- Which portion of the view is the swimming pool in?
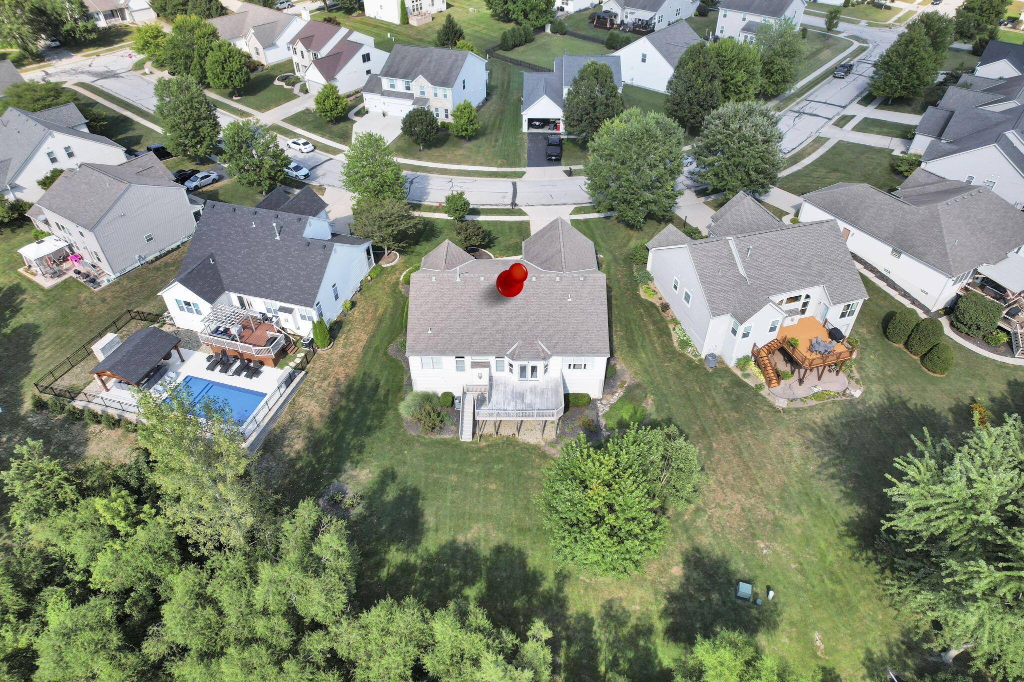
left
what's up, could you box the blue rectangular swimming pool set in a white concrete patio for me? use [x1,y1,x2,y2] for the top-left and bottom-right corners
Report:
[169,375,270,428]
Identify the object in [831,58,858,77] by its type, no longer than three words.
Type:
vehicle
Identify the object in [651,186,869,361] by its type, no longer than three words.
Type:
house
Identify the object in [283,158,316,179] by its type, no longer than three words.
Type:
car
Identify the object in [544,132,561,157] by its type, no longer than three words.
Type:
vehicle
